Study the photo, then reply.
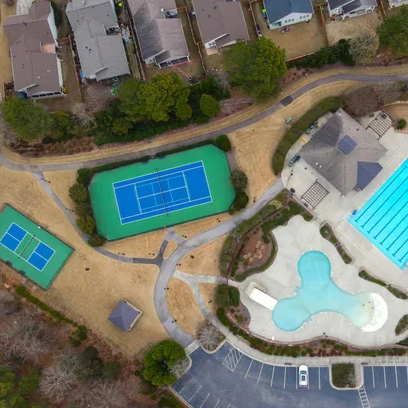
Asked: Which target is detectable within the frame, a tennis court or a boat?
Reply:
tennis court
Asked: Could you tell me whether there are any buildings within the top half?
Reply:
Yes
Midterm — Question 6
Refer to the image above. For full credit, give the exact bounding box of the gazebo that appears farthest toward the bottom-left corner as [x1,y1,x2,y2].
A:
[107,298,146,332]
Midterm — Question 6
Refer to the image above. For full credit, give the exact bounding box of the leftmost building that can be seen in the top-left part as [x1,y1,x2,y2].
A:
[4,2,64,98]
